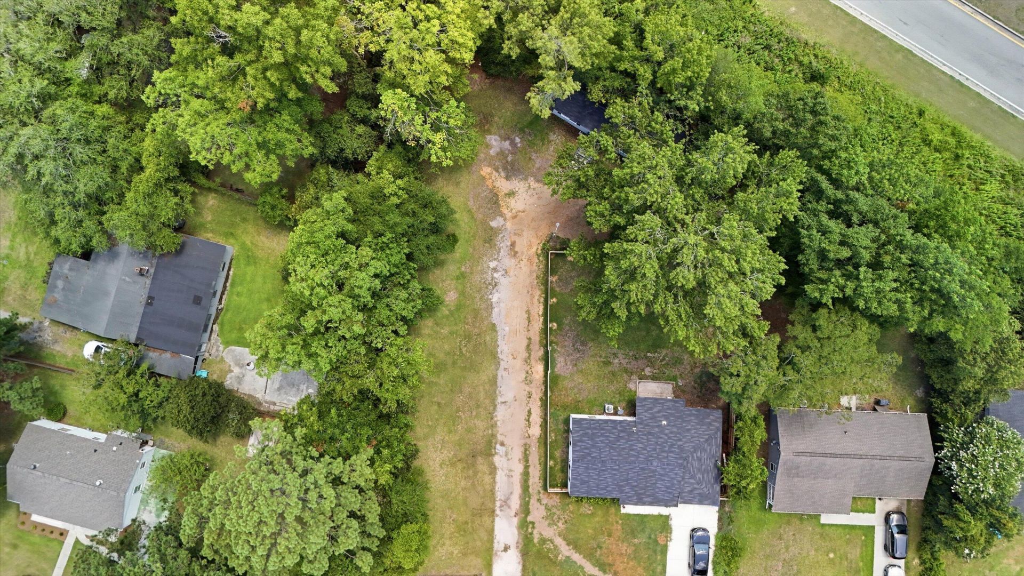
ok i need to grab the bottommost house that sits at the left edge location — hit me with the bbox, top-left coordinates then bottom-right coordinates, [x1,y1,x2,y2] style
[6,418,157,531]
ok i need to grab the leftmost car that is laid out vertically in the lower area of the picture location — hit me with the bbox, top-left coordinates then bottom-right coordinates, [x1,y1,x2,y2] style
[691,527,715,576]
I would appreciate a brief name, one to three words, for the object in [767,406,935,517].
house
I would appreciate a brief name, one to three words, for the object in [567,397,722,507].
house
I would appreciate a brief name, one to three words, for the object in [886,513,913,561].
car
